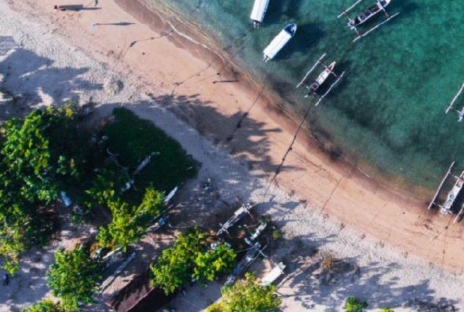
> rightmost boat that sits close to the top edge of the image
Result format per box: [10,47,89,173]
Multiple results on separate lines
[338,0,398,41]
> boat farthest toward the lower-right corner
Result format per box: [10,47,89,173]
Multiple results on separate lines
[429,164,464,222]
